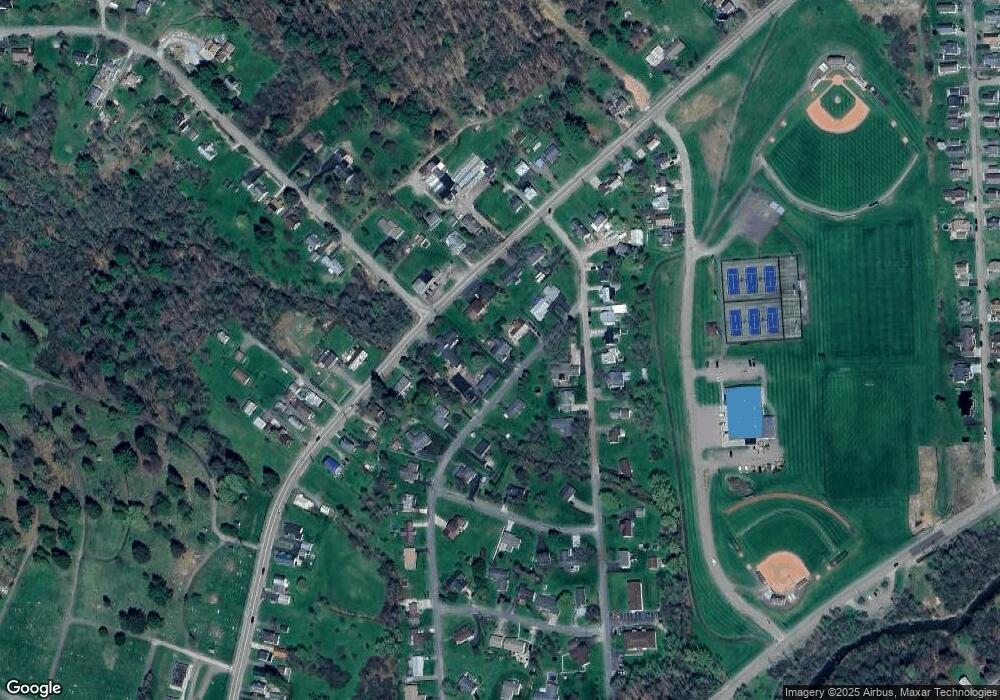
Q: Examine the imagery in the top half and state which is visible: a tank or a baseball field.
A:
baseball field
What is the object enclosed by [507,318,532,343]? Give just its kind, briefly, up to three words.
house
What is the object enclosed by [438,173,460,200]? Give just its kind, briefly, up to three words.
barn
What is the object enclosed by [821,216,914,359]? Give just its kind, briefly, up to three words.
sports field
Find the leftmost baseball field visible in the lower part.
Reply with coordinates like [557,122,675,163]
[722,492,852,592]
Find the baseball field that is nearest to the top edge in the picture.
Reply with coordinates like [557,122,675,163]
[759,65,920,219]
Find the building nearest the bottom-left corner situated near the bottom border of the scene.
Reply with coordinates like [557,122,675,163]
[171,659,191,688]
